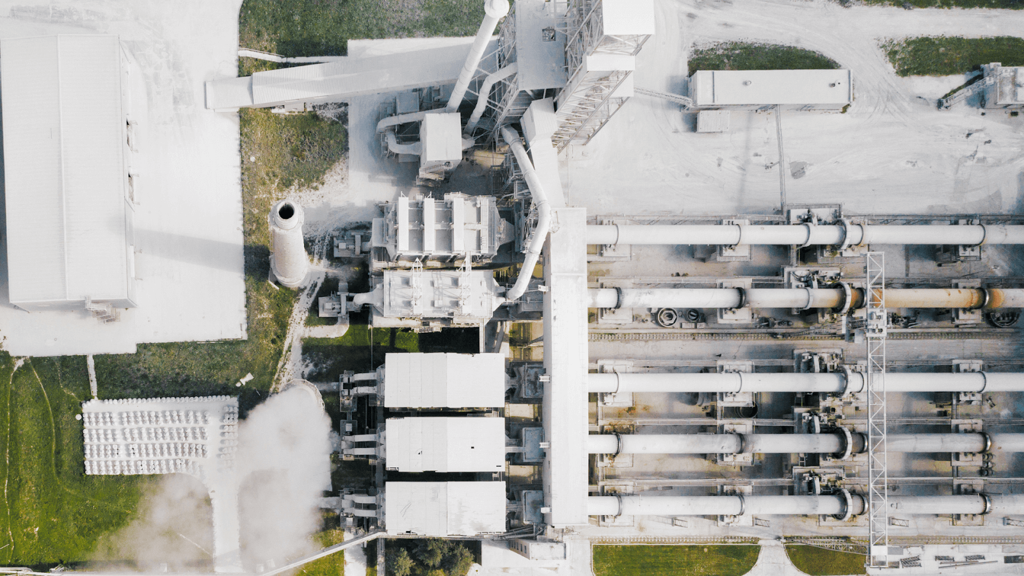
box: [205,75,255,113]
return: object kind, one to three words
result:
house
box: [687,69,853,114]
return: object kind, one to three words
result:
building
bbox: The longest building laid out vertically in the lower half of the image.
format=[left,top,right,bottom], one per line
[530,208,588,529]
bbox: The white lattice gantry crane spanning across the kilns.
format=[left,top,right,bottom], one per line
[765,252,887,567]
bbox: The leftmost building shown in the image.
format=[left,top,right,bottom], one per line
[0,33,146,309]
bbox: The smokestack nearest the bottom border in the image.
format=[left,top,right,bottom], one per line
[268,199,316,296]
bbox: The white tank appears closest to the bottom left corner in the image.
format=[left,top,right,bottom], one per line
[269,380,324,435]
